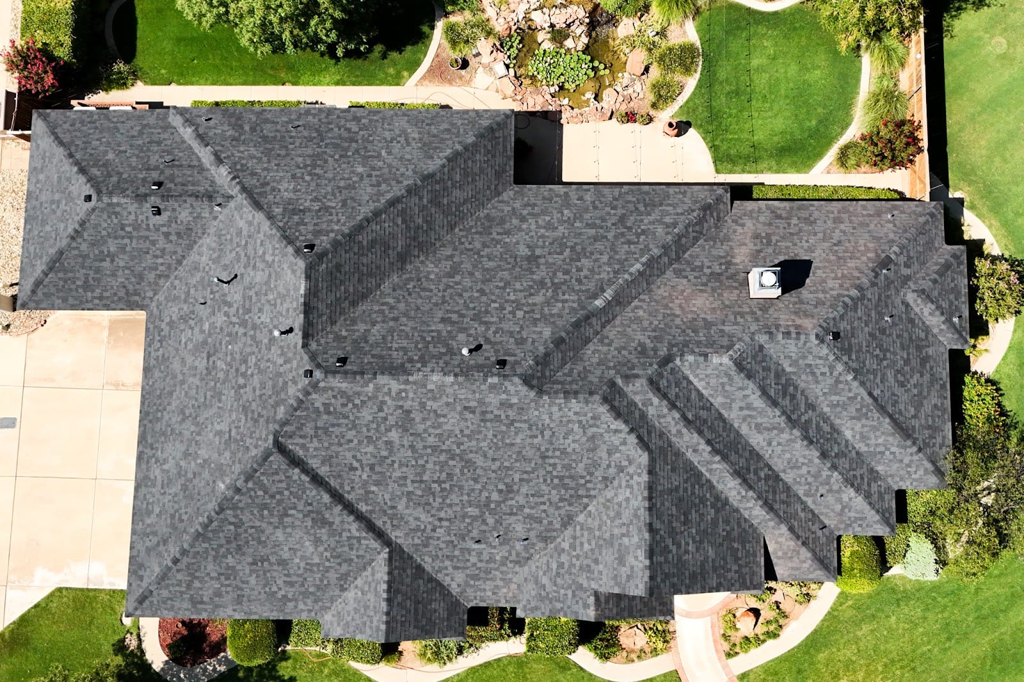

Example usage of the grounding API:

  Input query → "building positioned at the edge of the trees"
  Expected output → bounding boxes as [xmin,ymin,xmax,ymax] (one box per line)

[17,106,969,647]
